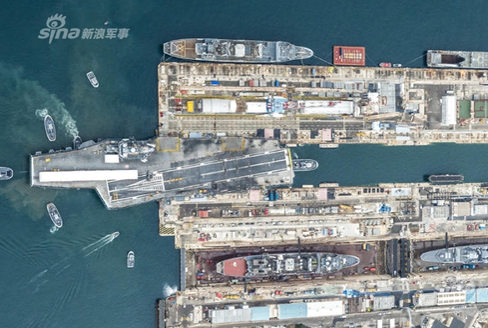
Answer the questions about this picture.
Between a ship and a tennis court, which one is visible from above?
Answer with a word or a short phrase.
ship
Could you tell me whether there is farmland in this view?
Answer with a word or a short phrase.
No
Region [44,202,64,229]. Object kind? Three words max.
boat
